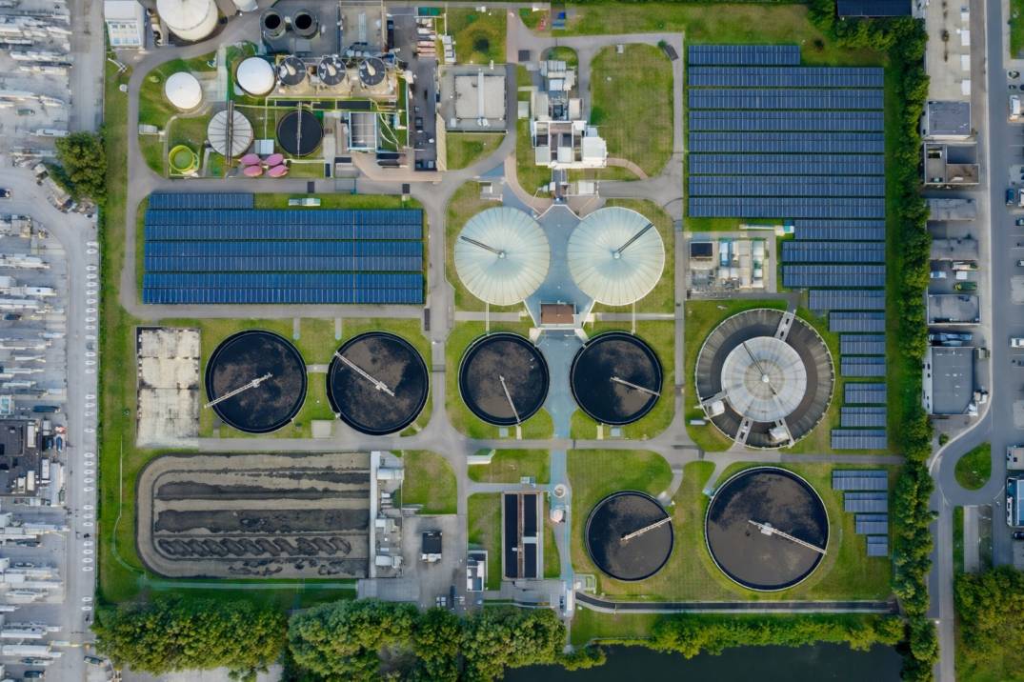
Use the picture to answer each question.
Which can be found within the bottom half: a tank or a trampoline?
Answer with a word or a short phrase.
tank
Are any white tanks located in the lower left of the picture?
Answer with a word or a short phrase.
No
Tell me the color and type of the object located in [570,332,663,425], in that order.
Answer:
black storage tank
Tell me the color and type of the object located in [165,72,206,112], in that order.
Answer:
white storage tank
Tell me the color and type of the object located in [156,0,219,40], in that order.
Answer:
white storage tank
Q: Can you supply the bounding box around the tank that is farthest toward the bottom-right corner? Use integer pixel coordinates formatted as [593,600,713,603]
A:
[705,467,830,592]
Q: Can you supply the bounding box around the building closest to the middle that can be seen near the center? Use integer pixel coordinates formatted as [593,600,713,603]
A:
[540,301,575,327]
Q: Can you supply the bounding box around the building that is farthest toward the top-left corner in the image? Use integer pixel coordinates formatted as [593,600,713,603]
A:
[104,0,152,49]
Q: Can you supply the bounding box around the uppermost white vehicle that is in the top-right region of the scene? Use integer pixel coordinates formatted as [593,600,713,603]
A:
[1009,96,1021,119]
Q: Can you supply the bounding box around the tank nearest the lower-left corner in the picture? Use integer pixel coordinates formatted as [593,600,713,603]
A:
[201,330,308,434]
